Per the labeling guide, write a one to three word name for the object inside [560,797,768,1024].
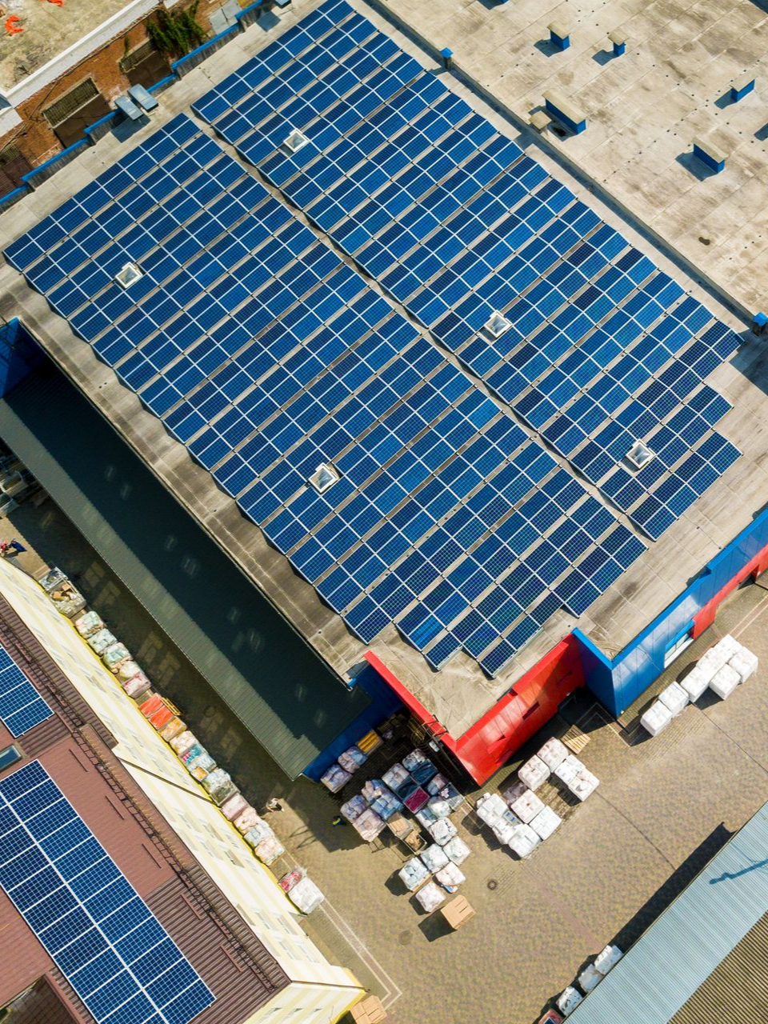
shed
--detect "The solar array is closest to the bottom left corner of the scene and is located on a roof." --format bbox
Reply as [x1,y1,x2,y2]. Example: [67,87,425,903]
[0,759,212,1024]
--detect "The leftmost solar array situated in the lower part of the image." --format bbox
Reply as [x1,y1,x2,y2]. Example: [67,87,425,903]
[0,640,52,736]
